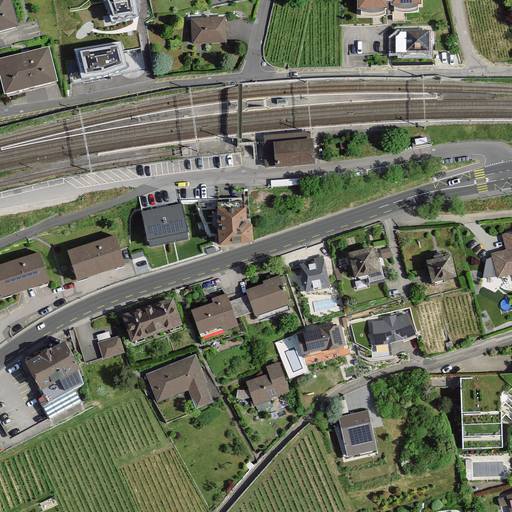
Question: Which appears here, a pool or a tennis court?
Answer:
pool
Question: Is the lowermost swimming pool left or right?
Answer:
right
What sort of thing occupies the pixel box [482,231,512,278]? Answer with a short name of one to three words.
house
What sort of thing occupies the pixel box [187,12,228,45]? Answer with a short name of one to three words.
house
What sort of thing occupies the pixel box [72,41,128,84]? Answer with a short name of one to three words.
building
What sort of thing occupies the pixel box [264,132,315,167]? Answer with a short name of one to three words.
building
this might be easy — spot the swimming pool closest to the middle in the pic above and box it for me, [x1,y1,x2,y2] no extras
[312,297,338,312]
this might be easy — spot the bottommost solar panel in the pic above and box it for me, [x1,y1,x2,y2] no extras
[348,424,372,445]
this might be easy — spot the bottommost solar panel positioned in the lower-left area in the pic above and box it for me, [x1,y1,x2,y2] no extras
[60,372,82,390]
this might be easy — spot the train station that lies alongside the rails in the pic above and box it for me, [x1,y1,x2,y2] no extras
[2,92,512,154]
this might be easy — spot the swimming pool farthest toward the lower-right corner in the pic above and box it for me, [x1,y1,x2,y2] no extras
[466,456,511,480]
